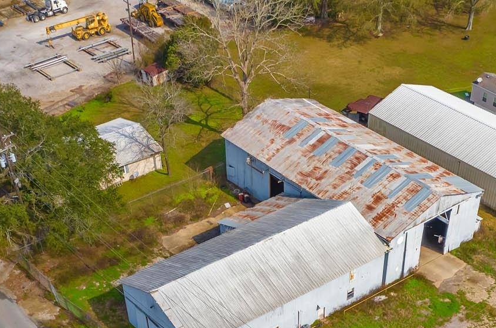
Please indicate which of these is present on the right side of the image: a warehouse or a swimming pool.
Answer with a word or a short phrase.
warehouse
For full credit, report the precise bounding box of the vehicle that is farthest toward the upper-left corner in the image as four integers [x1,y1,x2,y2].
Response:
[24,0,68,23]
